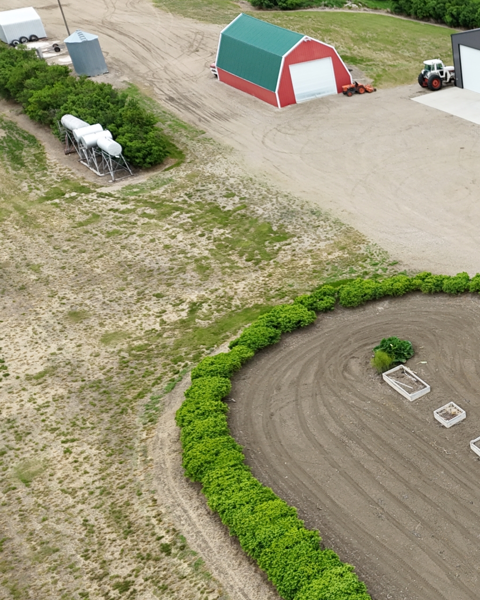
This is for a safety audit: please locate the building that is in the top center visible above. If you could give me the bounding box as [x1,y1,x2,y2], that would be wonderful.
[212,12,354,106]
